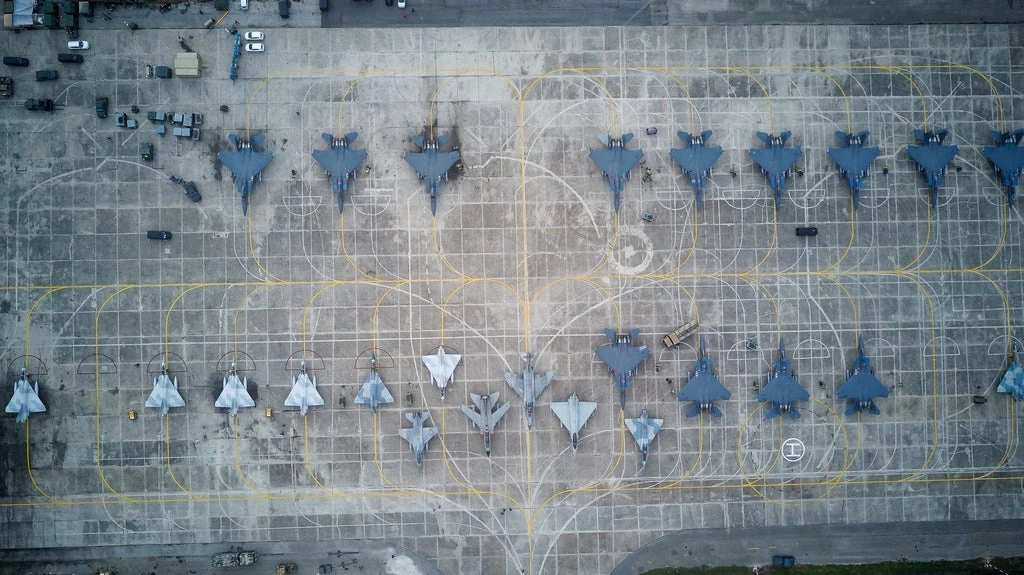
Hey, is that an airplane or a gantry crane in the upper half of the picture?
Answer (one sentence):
The feature located in the upper half of the picture is an airplane.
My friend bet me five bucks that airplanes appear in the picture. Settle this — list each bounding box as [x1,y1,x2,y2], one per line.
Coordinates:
[311,132,369,214]
[5,363,46,425]
[906,128,961,207]
[217,134,275,216]
[215,356,255,417]
[676,338,732,419]
[404,133,461,213]
[588,131,644,211]
[669,130,725,210]
[595,329,651,410]
[550,395,596,455]
[756,339,811,419]
[982,126,1024,205]
[145,357,186,418]
[421,346,460,411]
[749,129,805,209]
[396,412,439,474]
[503,352,553,432]
[284,356,324,416]
[624,410,663,476]
[354,351,394,412]
[835,337,890,416]
[827,129,883,209]
[461,391,510,458]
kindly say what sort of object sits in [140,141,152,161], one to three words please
vehicle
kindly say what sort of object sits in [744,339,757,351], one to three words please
vehicle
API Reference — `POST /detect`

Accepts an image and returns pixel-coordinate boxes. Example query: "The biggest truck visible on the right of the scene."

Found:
[662,319,700,349]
